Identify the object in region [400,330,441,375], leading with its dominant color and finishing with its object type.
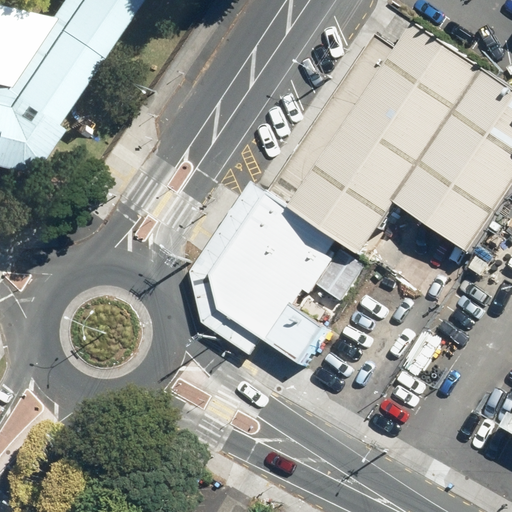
white truck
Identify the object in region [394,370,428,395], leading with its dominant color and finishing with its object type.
white car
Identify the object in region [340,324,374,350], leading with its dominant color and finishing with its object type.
white vehicle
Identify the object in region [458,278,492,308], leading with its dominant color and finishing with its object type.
gray car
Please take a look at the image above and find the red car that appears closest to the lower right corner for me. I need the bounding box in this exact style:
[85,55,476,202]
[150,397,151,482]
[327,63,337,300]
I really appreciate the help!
[377,398,412,424]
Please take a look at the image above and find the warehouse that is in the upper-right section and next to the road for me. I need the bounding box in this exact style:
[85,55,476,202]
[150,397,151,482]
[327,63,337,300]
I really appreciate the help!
[266,22,512,256]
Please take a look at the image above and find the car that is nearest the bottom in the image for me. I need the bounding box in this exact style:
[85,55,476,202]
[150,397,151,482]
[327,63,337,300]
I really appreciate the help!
[264,454,298,474]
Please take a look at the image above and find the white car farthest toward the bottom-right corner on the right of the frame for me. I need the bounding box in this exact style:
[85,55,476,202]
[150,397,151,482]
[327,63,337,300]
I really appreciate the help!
[470,418,495,449]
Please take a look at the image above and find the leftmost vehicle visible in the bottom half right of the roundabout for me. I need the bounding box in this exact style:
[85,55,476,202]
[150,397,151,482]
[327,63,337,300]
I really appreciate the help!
[239,380,270,406]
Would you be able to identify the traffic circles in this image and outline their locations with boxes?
[6,232,208,418]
